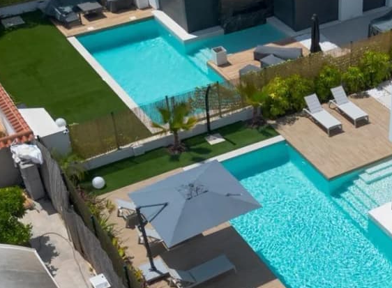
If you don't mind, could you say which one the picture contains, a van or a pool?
pool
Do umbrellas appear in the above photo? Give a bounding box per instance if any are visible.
[298,9,328,60]
[127,160,268,277]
